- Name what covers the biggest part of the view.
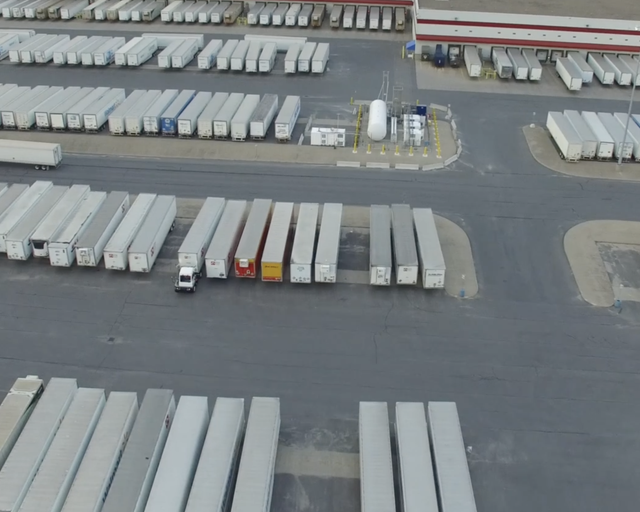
paved ground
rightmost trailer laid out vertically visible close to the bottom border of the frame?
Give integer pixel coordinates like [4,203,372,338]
[426,393,476,512]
